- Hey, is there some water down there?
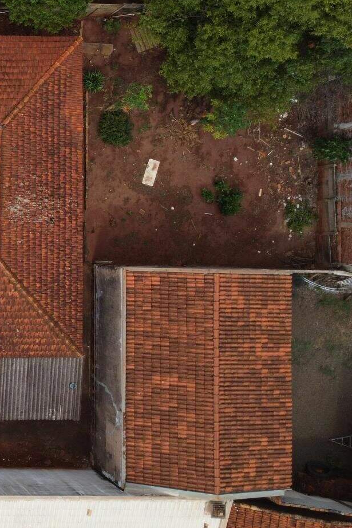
No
